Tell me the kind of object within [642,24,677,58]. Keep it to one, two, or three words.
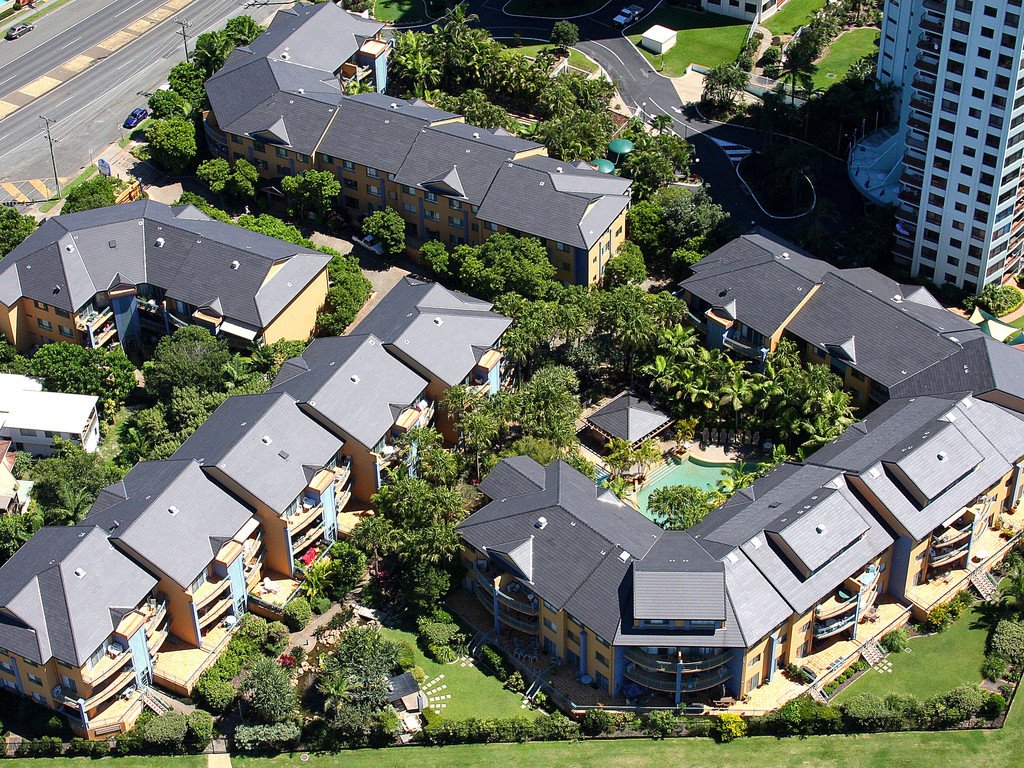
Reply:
shed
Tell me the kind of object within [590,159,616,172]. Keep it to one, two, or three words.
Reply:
umbrella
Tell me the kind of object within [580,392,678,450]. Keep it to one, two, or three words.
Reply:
gazebo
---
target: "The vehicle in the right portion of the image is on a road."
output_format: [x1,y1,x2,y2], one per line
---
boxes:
[614,6,641,22]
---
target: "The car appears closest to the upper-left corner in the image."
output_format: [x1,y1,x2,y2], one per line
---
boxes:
[6,24,31,38]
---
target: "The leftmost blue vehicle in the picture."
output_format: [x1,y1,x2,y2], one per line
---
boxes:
[122,110,147,126]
